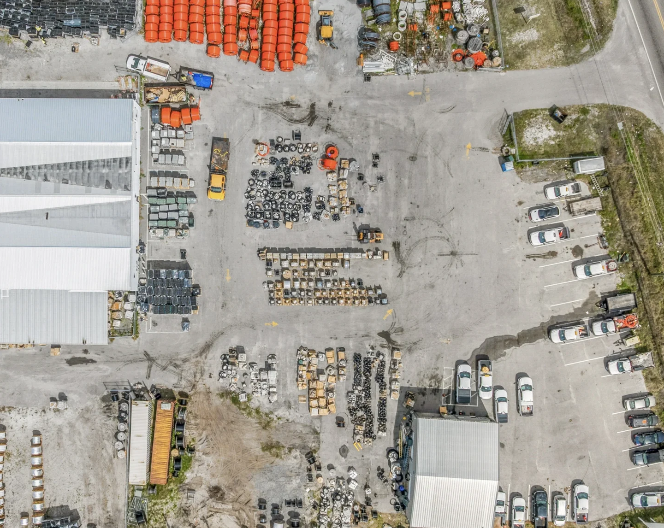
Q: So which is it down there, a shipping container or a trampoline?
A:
shipping container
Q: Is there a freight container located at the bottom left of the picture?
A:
Yes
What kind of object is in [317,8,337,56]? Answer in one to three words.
work vehicle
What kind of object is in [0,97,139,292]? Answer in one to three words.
warehouse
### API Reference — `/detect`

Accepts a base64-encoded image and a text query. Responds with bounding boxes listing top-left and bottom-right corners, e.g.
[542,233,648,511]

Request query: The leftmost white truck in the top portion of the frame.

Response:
[127,56,172,83]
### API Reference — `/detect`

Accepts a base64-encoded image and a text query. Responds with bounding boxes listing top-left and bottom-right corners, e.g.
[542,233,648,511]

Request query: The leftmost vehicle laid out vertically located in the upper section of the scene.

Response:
[207,138,229,202]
